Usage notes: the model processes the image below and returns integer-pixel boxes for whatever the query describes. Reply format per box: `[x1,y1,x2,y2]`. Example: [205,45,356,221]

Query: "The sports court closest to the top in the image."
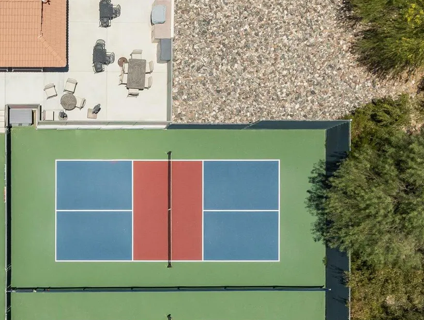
[9,127,325,290]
